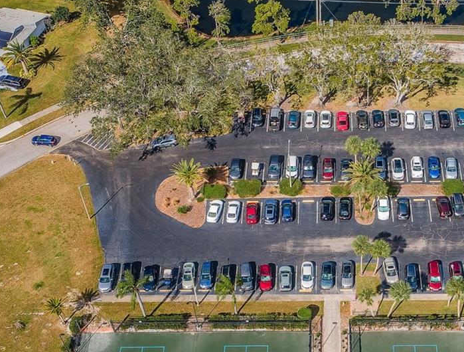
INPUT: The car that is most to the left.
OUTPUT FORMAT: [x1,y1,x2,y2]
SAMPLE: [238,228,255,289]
[1,75,27,89]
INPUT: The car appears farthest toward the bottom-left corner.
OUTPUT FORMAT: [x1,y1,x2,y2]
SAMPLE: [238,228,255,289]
[98,264,115,292]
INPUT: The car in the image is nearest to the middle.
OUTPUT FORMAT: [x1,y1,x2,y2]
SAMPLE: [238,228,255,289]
[230,157,244,181]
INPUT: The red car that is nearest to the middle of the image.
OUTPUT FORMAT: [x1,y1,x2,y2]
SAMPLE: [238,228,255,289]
[246,202,260,224]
